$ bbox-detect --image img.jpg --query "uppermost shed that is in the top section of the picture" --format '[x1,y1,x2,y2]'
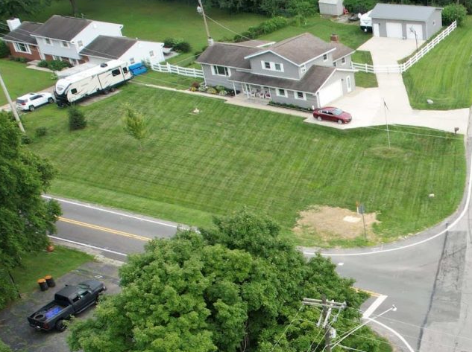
[316,0,342,15]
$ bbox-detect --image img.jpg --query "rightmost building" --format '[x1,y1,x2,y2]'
[368,5,437,40]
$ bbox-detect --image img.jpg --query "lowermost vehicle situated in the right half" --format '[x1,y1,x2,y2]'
[309,105,354,125]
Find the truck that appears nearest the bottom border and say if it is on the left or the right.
left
